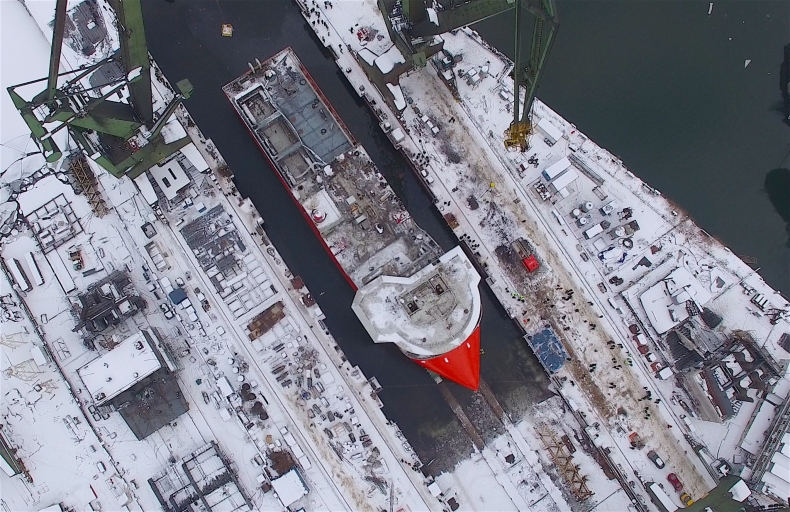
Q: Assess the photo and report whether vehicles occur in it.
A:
Yes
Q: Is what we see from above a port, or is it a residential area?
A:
port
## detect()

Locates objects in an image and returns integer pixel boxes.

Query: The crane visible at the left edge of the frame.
[5,0,196,178]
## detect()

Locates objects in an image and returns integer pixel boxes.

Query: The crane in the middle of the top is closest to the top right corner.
[357,0,559,157]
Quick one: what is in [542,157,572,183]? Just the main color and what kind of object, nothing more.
white shipping container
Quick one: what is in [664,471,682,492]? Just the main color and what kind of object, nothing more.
red car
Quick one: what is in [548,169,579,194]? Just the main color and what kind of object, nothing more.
white shipping container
